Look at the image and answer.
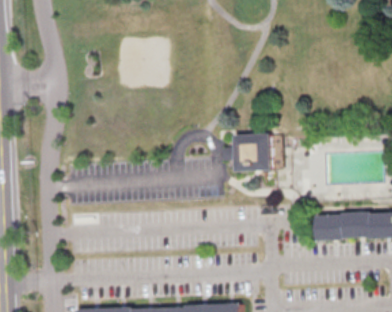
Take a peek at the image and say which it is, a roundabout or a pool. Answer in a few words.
pool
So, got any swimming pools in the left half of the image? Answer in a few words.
No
